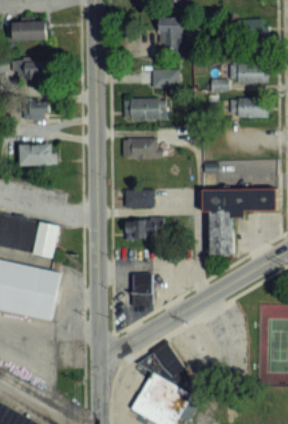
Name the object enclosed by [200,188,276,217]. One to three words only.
building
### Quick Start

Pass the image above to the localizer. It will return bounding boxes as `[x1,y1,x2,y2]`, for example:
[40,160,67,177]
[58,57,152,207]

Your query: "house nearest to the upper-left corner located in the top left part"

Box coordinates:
[12,18,48,40]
